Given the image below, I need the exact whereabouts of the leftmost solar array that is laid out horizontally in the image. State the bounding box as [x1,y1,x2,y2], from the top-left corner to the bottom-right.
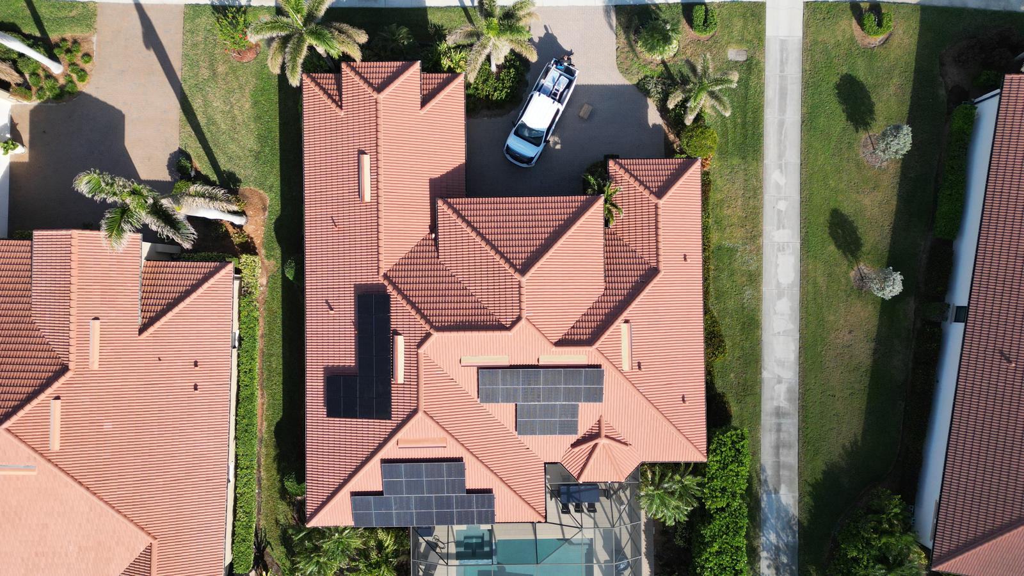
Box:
[351,462,495,526]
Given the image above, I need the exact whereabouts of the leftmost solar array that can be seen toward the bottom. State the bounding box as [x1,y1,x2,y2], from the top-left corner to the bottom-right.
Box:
[327,294,391,420]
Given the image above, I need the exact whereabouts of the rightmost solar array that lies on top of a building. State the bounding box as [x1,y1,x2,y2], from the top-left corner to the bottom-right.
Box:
[479,369,604,435]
